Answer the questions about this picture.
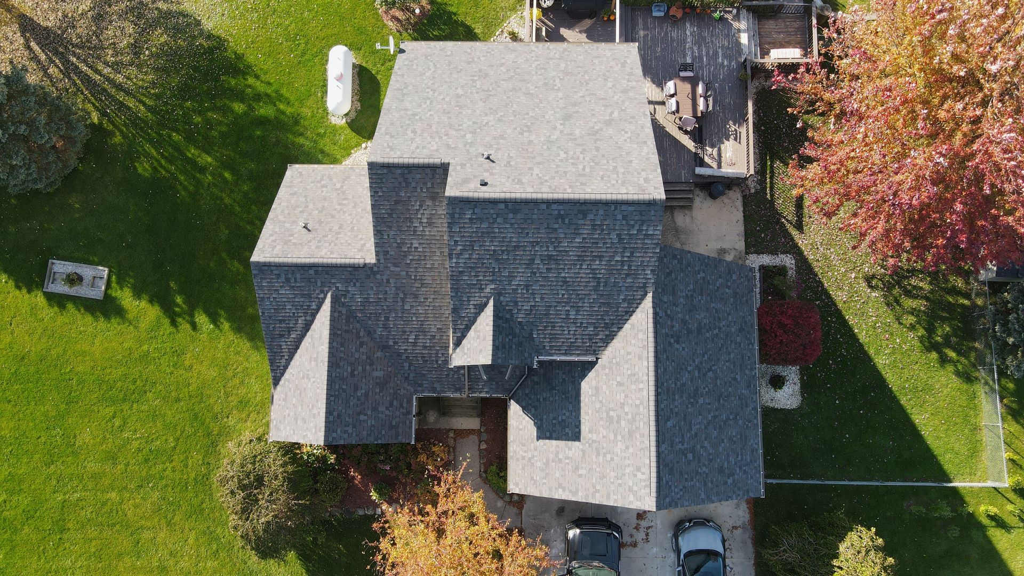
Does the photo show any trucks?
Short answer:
No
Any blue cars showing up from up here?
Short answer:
Yes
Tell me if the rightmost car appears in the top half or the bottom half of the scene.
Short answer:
bottom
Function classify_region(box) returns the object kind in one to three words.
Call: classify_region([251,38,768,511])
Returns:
house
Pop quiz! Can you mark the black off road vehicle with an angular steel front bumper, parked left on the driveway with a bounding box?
[563,516,624,576]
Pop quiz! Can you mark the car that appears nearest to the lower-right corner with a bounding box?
[671,516,740,576]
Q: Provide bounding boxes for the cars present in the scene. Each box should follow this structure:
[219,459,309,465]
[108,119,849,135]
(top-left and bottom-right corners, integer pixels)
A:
[671,516,740,576]
[563,516,624,576]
